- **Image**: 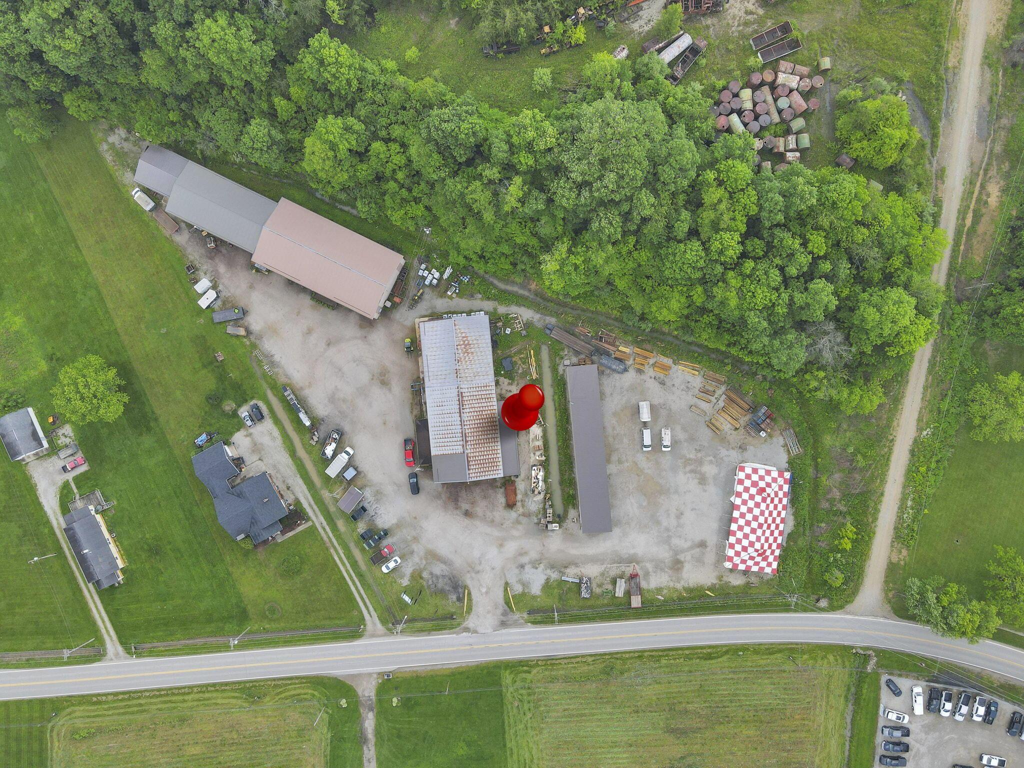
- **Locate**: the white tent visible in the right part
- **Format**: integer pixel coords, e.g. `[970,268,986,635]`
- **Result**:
[716,458,790,578]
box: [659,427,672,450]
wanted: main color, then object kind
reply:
white vehicle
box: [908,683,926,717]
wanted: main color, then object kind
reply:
white vehicle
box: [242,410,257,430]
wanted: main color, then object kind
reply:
gray car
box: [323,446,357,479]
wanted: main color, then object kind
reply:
white truck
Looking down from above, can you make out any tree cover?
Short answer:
Yes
